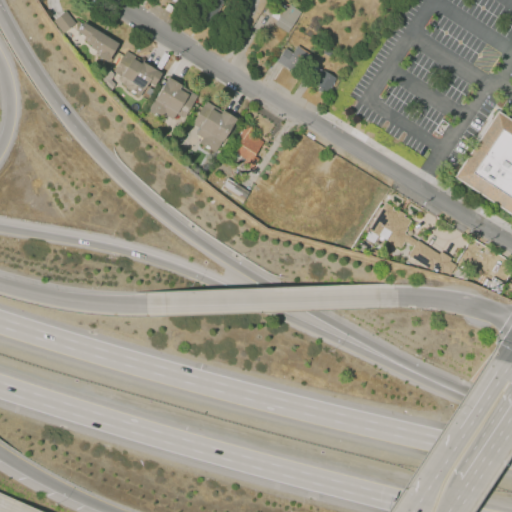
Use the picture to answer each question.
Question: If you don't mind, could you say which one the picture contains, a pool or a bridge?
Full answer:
There is a bridge in the scene.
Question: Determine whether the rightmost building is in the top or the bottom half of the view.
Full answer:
It is in the top half that the rightmost building appears.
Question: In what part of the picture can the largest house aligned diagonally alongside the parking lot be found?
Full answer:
You can find the largest house aligned diagonally alongside the parking lot in the right area of the picture.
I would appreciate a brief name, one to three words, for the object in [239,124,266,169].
house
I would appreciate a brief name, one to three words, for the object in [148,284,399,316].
bridge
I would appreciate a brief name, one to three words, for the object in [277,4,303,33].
house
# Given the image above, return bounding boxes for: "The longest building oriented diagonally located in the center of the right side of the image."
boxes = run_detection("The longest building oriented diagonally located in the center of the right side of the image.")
[370,201,460,274]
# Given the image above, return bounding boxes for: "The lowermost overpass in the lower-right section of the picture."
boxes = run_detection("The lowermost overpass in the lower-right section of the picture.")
[391,360,512,512]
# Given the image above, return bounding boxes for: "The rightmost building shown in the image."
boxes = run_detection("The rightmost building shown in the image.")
[454,110,512,215]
